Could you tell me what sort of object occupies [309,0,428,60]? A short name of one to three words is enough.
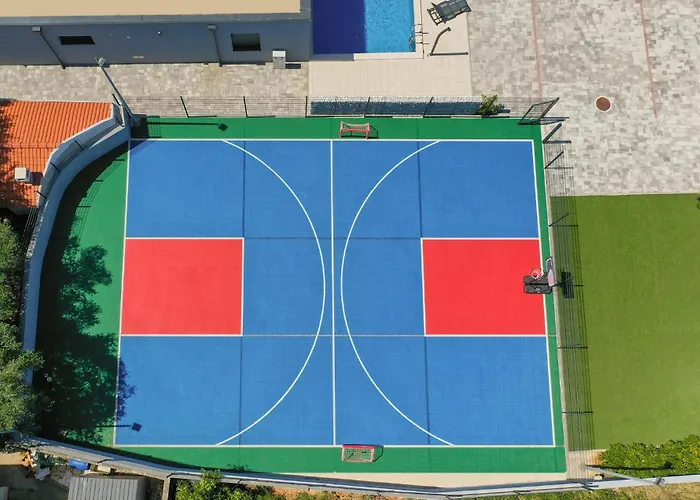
swimming pool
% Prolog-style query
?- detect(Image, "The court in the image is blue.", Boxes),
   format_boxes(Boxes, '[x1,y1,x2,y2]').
[33,118,565,473]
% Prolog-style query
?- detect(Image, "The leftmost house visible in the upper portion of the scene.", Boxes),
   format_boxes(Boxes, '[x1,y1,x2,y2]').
[0,100,110,209]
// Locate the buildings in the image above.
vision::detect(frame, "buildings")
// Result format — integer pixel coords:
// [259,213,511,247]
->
[0,0,311,68]
[66,473,152,500]
[0,100,110,209]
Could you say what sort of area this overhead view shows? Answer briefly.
sports ground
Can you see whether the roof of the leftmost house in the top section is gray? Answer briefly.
No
